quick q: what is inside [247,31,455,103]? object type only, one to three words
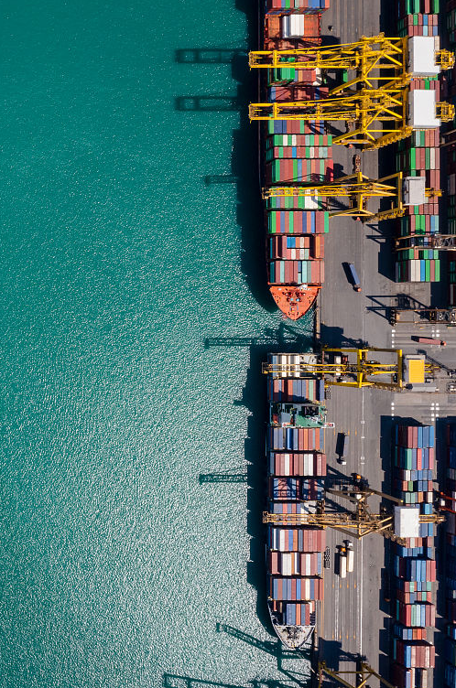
container crane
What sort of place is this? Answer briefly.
port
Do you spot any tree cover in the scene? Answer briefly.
No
